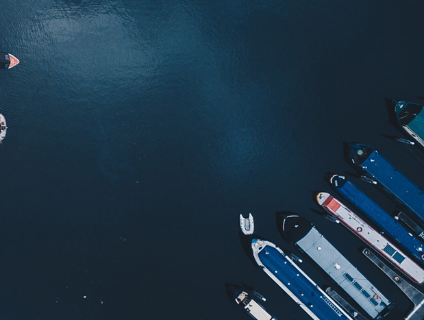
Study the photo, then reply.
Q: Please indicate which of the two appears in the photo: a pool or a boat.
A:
boat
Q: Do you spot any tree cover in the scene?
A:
No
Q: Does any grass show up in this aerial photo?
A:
No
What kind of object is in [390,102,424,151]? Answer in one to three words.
boat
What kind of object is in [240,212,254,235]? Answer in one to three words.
boat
